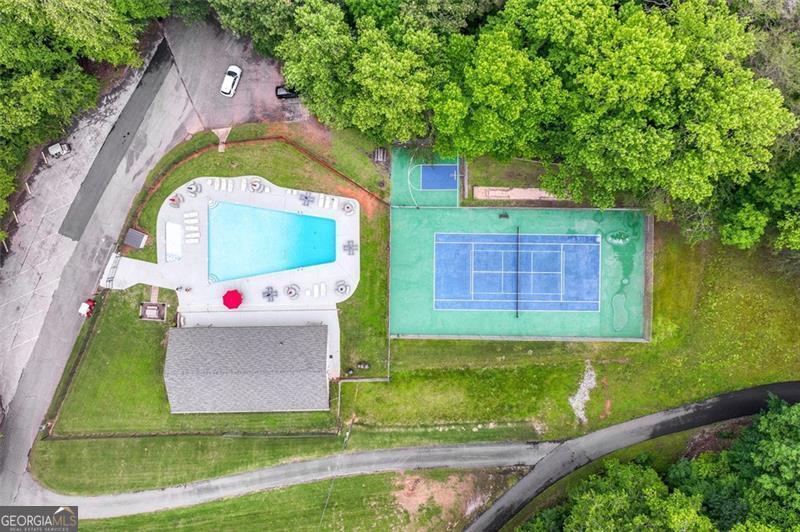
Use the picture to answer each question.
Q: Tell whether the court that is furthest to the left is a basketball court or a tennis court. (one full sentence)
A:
Specifically, the court that is furthest to the left is a basketball court.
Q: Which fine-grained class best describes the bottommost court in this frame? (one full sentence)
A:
What you see as the bottommost court is a tennis court.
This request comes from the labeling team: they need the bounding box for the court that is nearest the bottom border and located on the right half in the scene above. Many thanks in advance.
[390,207,650,342]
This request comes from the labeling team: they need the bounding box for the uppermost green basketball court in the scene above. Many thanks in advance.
[391,147,460,207]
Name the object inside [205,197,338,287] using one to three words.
swimming pool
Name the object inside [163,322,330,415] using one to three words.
building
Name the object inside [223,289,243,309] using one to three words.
umbrella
